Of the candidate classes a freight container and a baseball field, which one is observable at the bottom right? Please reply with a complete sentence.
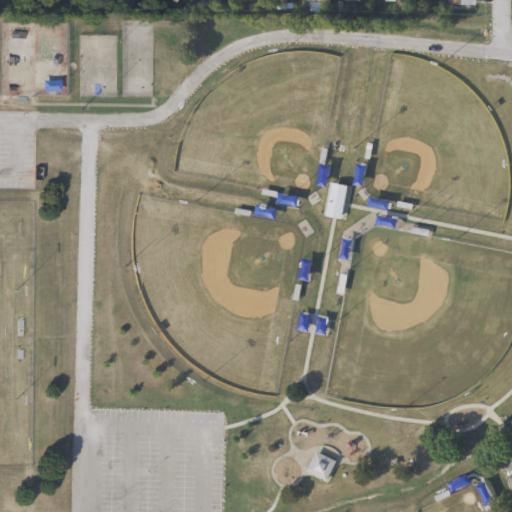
What appears at the bottom right is a baseball field.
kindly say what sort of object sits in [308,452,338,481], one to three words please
building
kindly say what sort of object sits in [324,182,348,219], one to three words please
building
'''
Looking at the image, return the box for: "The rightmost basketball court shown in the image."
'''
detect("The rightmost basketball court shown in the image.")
[122,21,154,97]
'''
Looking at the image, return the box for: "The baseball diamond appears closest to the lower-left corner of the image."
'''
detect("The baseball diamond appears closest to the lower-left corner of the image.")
[134,193,303,395]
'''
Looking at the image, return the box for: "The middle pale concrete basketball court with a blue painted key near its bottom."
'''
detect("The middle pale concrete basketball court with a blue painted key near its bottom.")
[80,36,118,97]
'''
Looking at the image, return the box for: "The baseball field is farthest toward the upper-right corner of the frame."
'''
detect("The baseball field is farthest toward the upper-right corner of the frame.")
[362,53,510,222]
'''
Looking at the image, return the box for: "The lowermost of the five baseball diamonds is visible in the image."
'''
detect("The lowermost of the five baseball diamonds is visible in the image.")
[411,485,486,512]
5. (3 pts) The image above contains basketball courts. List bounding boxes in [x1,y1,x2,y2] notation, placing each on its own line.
[122,21,154,97]
[80,36,118,97]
